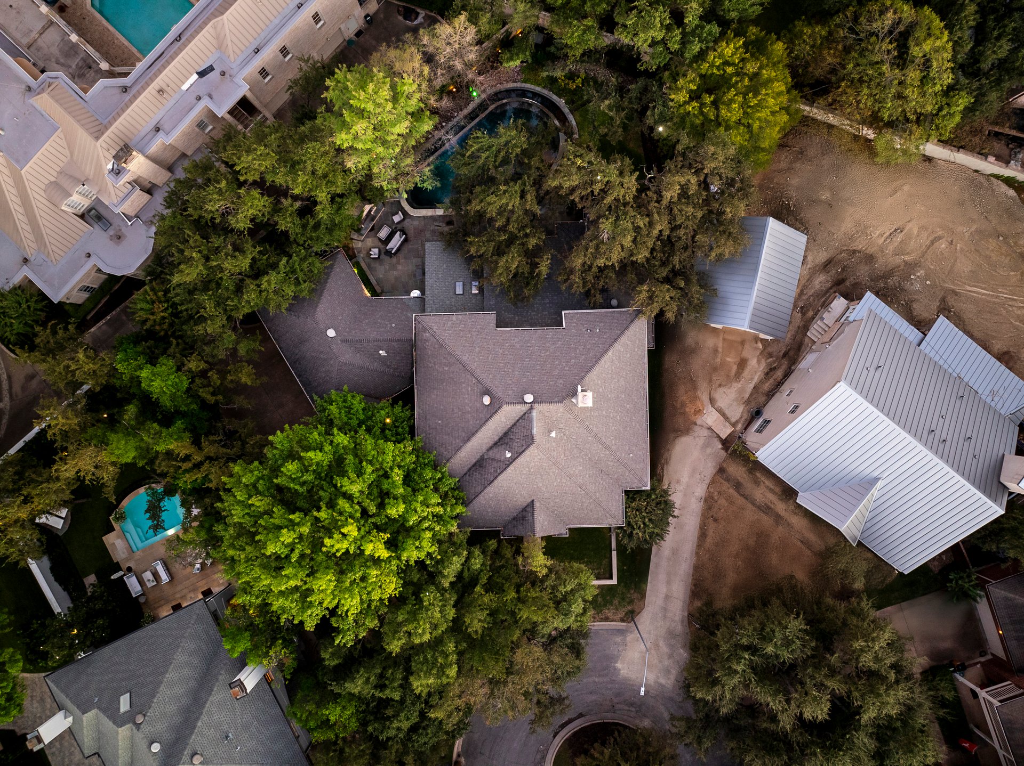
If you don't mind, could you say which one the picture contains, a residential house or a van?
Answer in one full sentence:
Visible in the photo is a residential house.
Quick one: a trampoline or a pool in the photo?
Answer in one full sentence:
The one in the frame is a pool.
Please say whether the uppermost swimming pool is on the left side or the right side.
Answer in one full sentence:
The uppermost swimming pool appears in the left half of the scene.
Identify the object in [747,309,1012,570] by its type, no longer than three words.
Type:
house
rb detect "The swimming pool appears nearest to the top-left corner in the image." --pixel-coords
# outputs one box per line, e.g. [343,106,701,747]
[86,0,202,62]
